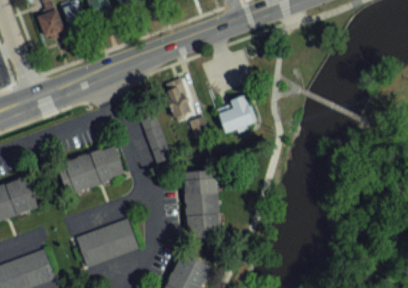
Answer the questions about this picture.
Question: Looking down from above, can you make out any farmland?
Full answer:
No, the scene doesn't show any farmland.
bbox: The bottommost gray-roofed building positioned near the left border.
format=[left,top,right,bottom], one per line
[0,250,54,288]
